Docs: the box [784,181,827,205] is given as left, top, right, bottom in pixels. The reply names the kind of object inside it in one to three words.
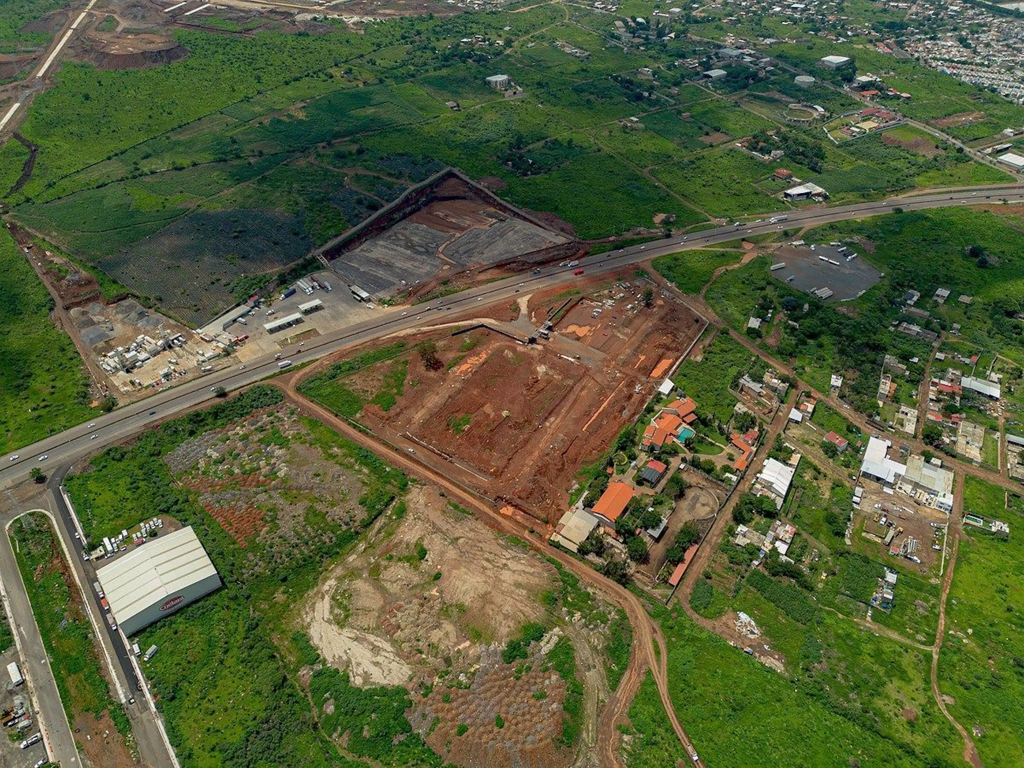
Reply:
shed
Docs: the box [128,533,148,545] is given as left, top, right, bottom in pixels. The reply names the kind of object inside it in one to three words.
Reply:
vehicle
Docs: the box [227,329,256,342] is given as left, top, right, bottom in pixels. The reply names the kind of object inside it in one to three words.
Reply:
vehicle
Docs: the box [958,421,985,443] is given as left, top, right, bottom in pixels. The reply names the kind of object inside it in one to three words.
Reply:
house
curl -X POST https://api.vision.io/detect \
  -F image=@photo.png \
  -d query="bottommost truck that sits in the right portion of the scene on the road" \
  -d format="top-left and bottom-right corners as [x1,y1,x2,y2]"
[683,740,704,765]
